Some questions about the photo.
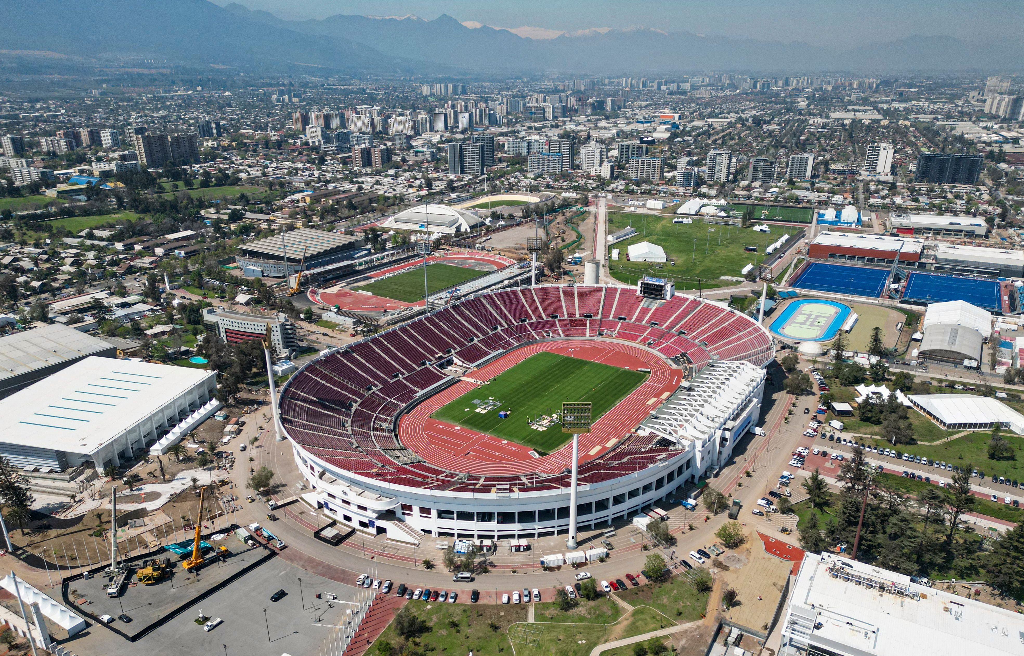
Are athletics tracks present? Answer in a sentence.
Yes, an athletics track appears in the view.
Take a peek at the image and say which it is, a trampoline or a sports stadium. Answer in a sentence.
The one in the frame is a sports stadium.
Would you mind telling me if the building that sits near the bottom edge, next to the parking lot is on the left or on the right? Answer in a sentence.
The building that sits near the bottom edge, next to the parking lot is on the right side of the image.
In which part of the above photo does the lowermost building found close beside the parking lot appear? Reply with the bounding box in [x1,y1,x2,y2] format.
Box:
[777,551,1024,656]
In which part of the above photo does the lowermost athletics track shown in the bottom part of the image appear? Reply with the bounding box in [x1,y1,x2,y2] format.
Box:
[398,340,683,477]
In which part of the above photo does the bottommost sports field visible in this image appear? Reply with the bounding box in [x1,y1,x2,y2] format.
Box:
[431,351,649,452]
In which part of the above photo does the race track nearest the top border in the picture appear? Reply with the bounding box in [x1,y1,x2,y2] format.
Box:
[433,188,571,213]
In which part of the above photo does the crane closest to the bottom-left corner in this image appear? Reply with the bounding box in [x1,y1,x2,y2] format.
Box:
[102,482,140,592]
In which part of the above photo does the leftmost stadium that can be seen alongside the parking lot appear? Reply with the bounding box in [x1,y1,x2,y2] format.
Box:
[279,285,776,550]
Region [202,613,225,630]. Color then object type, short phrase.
white vehicle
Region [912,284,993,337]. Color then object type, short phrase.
white tent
